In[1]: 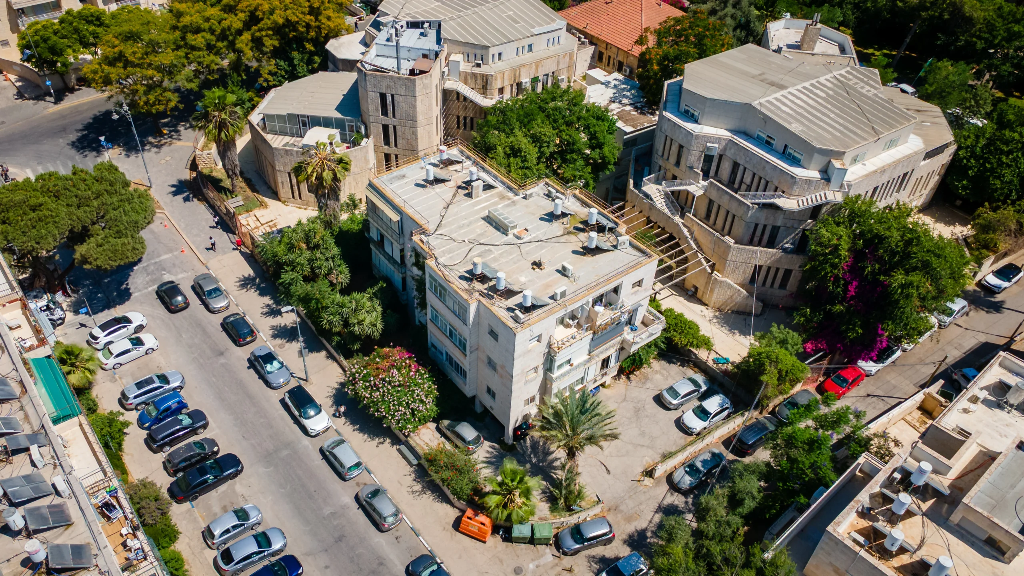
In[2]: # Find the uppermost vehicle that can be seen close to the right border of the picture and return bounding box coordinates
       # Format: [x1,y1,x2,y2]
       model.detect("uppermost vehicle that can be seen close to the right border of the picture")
[985,258,1024,291]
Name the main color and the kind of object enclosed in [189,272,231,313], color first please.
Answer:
gray car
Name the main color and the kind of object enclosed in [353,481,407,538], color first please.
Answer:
gray car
